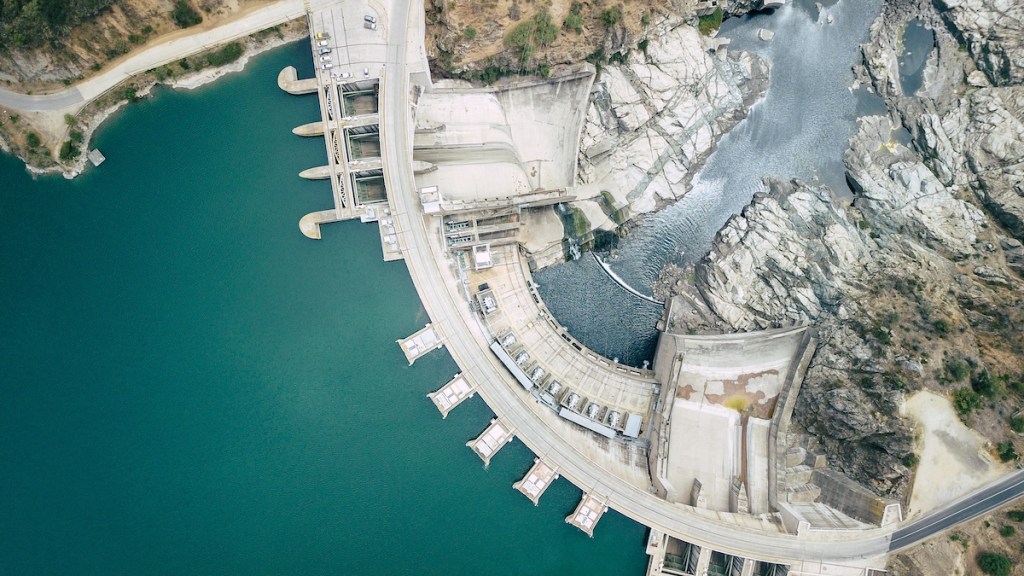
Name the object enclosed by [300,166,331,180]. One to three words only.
pier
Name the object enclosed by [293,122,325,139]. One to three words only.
pier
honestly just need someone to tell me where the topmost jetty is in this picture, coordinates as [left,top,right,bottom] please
[279,66,320,96]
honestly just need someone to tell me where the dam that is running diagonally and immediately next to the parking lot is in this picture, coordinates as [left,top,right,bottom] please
[378,0,890,566]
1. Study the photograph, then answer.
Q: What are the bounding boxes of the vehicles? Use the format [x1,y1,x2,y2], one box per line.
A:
[364,15,375,22]
[340,71,352,77]
[321,63,332,69]
[319,48,330,54]
[315,32,332,39]
[320,55,331,61]
[364,22,377,29]
[317,40,327,46]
